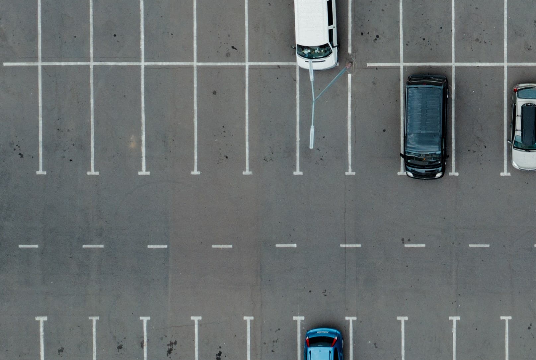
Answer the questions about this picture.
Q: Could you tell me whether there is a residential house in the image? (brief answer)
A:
No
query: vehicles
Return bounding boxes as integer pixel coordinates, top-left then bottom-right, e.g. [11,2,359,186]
[399,73,450,181]
[303,326,345,360]
[289,0,340,70]
[505,83,536,171]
